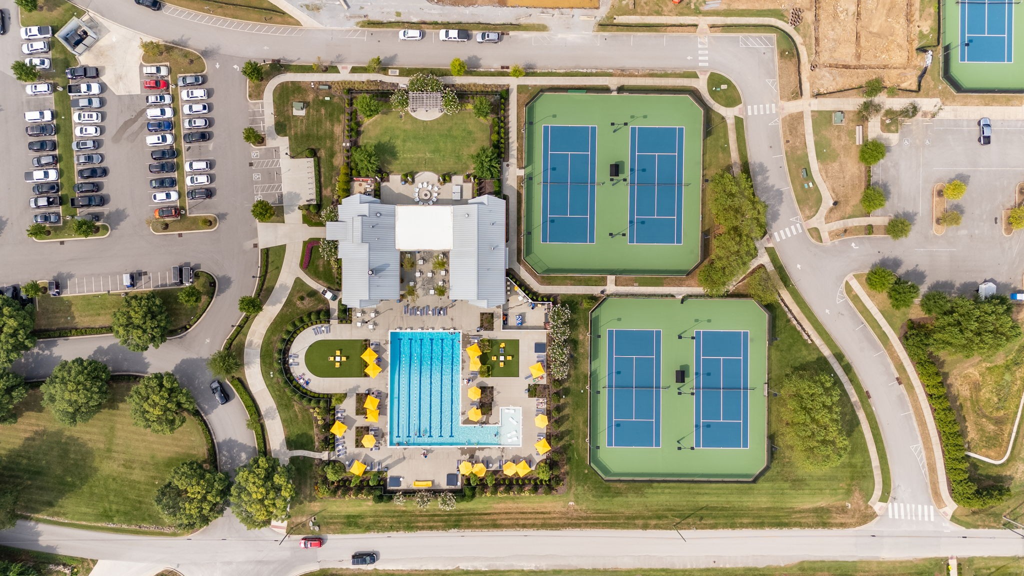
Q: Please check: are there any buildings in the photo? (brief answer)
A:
Yes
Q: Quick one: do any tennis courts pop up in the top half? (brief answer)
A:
Yes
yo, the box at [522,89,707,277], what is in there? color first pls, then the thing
green tennis court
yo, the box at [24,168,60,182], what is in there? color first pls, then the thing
white vehicle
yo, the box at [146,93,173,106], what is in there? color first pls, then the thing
white vehicle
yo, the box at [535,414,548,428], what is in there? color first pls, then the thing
yellow umbrella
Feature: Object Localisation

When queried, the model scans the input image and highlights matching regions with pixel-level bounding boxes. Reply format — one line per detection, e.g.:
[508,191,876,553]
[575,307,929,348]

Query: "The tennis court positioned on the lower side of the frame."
[588,297,773,483]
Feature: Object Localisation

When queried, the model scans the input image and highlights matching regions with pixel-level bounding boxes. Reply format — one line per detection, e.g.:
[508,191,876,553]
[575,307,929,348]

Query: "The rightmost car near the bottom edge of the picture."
[352,552,377,565]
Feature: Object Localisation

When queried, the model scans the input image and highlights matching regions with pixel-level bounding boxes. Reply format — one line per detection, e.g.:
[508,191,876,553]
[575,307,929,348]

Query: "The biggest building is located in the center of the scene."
[322,194,508,308]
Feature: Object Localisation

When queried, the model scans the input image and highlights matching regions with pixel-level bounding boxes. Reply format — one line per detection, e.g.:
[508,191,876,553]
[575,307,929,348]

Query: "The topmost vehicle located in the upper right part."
[977,118,992,146]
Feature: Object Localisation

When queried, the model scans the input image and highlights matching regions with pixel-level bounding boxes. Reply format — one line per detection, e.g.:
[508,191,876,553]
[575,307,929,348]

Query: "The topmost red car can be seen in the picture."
[143,78,169,91]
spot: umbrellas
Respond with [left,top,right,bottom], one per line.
[468,386,481,400]
[528,362,545,379]
[516,460,532,477]
[459,461,473,475]
[468,407,482,422]
[465,342,482,358]
[350,458,368,477]
[503,462,516,476]
[361,434,377,448]
[330,419,348,437]
[535,438,551,455]
[472,463,486,476]
[366,408,380,422]
[535,414,548,428]
[364,361,382,379]
[363,394,381,410]
[360,347,379,365]
[467,357,483,370]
